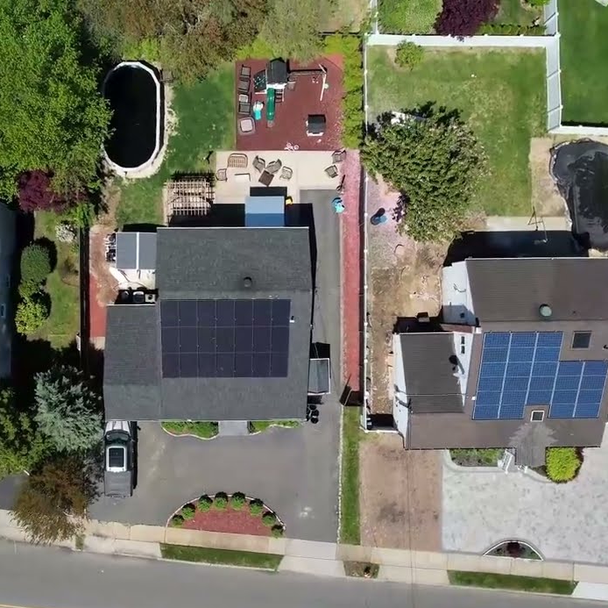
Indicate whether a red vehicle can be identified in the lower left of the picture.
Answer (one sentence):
No, no red vehicle is visible in the lower left of the picture.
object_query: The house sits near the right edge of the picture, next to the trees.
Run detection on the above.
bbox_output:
[397,256,608,468]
